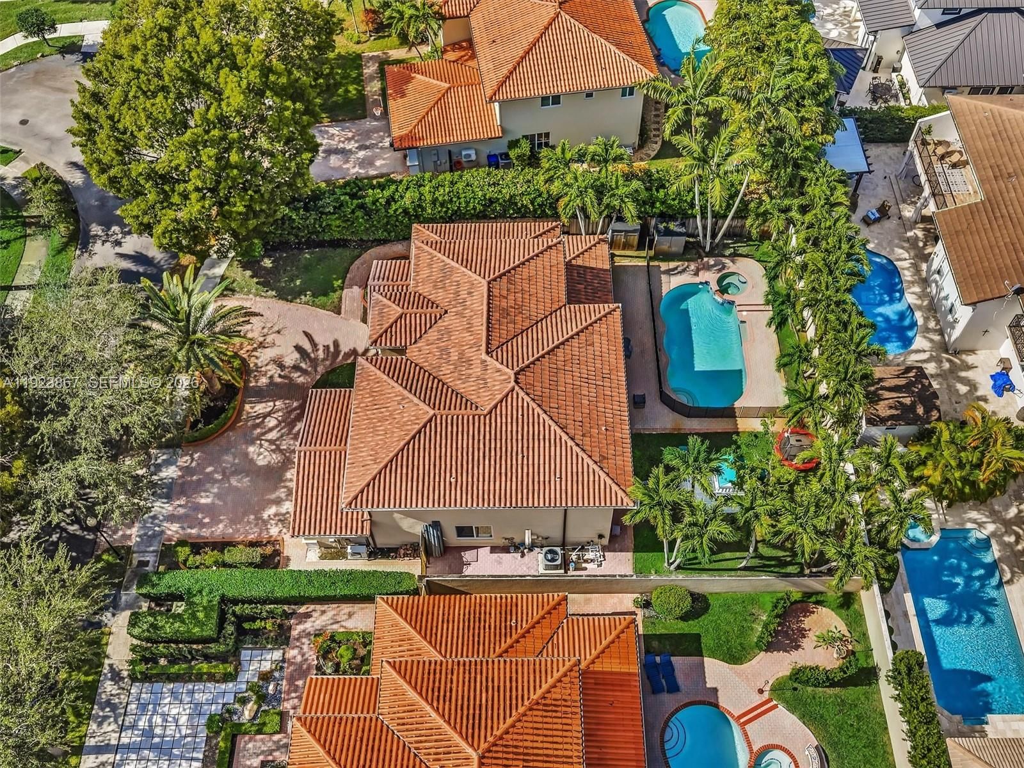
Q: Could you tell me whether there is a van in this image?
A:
No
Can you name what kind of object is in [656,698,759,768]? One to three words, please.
swimming pool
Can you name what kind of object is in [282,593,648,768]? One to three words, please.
house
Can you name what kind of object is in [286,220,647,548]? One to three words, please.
house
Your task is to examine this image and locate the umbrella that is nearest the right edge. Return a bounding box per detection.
[987,375,1014,400]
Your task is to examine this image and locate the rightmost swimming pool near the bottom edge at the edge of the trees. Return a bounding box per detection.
[896,521,1024,733]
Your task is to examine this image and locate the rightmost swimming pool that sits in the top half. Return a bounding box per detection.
[844,242,923,358]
